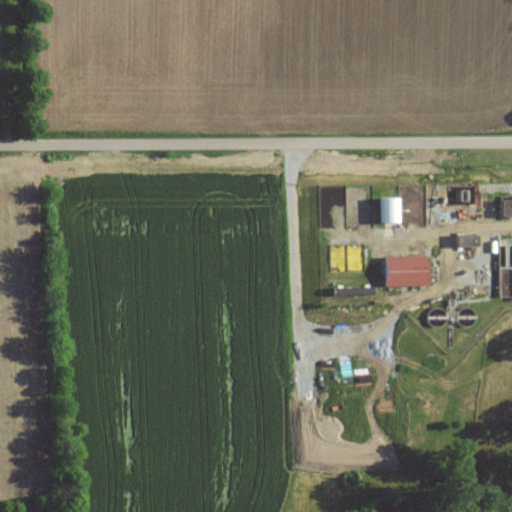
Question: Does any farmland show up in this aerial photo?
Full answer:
Yes, there's farmland in this view.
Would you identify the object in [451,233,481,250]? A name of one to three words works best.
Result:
building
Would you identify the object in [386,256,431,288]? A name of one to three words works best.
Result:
barn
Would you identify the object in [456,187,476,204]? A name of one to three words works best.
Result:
building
